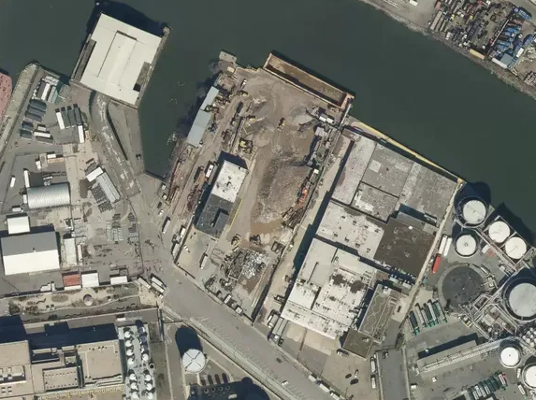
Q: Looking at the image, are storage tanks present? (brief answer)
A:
Yes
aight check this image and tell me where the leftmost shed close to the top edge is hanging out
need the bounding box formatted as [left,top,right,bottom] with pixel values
[80,13,161,105]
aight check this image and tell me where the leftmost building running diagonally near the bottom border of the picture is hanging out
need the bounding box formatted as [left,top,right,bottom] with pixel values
[32,350,76,393]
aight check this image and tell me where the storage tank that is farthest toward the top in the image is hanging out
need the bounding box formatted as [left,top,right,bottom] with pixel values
[456,194,491,228]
